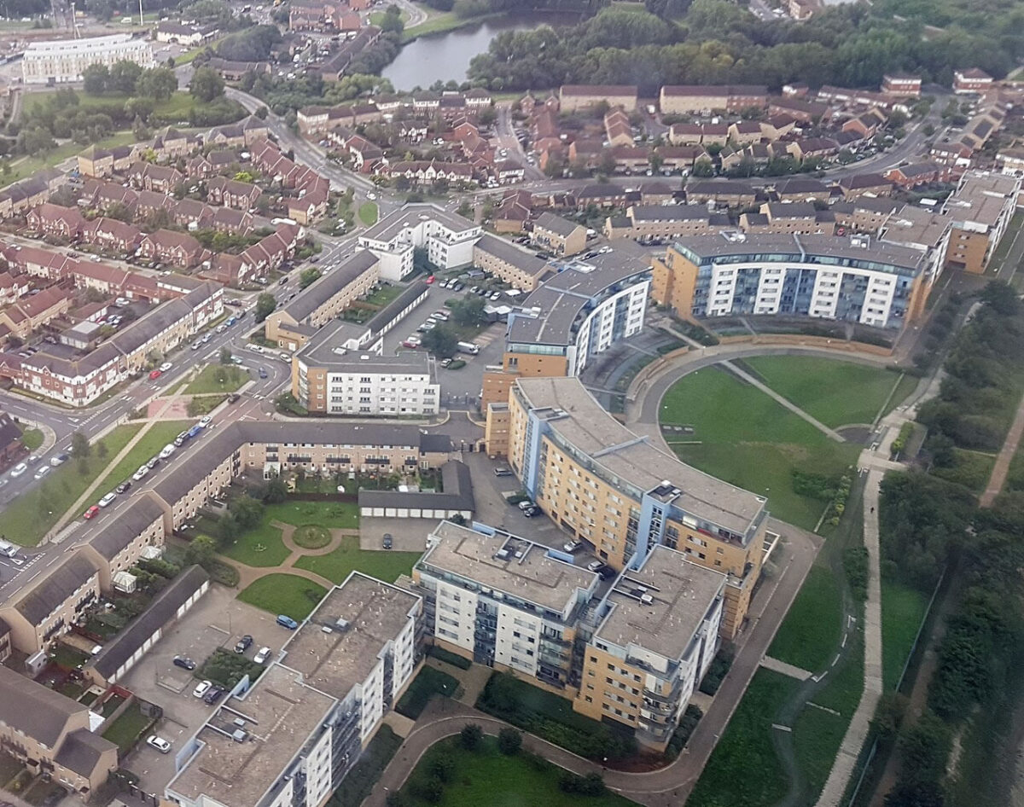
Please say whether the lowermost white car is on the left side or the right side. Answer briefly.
left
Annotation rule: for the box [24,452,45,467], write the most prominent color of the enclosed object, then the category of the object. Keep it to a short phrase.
gray car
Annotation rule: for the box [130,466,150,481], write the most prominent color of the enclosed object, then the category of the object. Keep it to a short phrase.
white car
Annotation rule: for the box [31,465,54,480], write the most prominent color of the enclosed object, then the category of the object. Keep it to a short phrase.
white car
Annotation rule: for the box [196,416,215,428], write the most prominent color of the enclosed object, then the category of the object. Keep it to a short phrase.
white vehicle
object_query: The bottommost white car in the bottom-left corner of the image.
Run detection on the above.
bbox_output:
[143,734,175,755]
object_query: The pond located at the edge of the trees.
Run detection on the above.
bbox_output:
[381,10,597,95]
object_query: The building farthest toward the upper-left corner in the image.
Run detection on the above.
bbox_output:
[20,29,154,88]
